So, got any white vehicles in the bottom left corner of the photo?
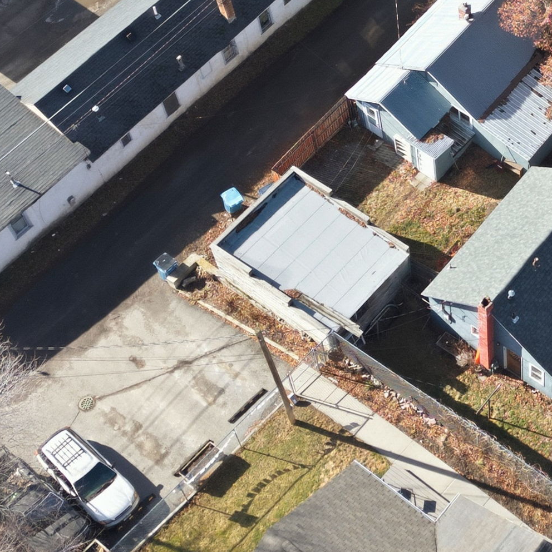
Yes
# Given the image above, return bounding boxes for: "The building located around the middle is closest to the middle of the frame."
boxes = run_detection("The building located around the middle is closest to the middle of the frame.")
[207,161,414,359]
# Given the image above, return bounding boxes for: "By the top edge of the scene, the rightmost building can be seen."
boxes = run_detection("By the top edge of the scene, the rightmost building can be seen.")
[344,0,552,179]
